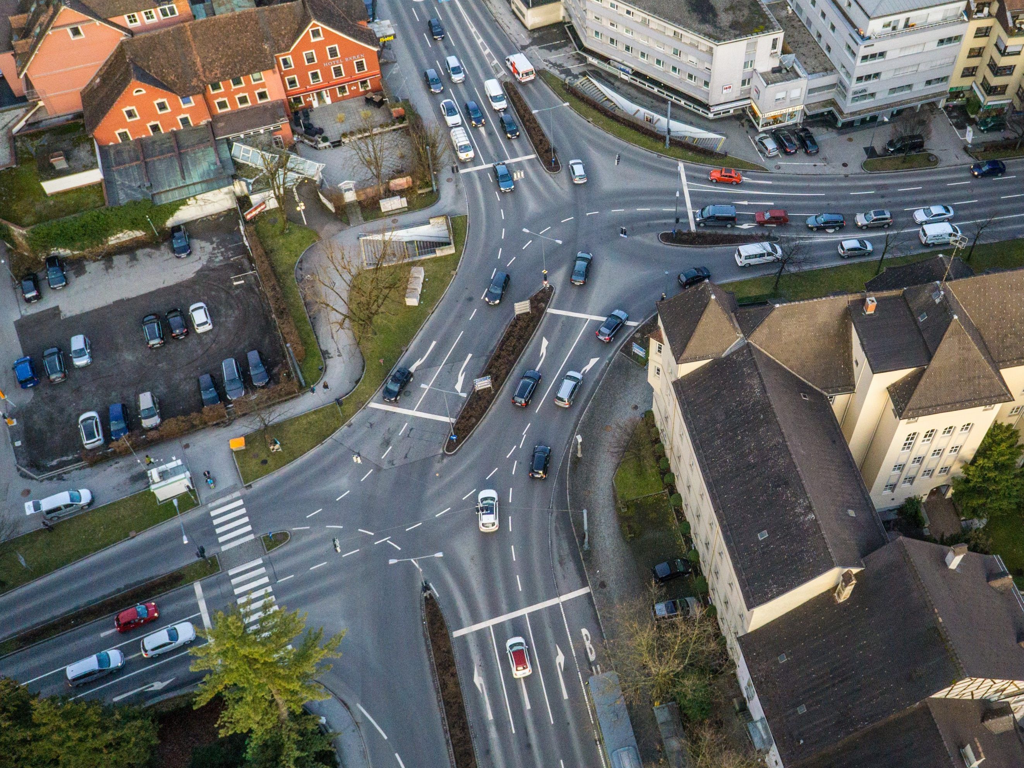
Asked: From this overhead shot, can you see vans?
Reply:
Yes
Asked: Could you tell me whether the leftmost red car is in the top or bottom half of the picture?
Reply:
bottom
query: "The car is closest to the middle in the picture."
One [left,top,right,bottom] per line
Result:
[510,368,540,407]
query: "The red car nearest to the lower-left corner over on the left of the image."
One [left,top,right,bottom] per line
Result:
[113,603,159,634]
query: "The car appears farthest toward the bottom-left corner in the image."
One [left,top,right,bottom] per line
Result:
[68,652,123,686]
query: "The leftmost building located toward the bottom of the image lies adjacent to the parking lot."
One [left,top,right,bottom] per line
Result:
[141,446,189,501]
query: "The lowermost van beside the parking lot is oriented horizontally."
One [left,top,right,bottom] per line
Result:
[28,488,91,518]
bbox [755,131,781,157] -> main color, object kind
gray car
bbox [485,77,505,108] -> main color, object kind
white vehicle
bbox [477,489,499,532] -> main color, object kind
white car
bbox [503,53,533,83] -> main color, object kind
white van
